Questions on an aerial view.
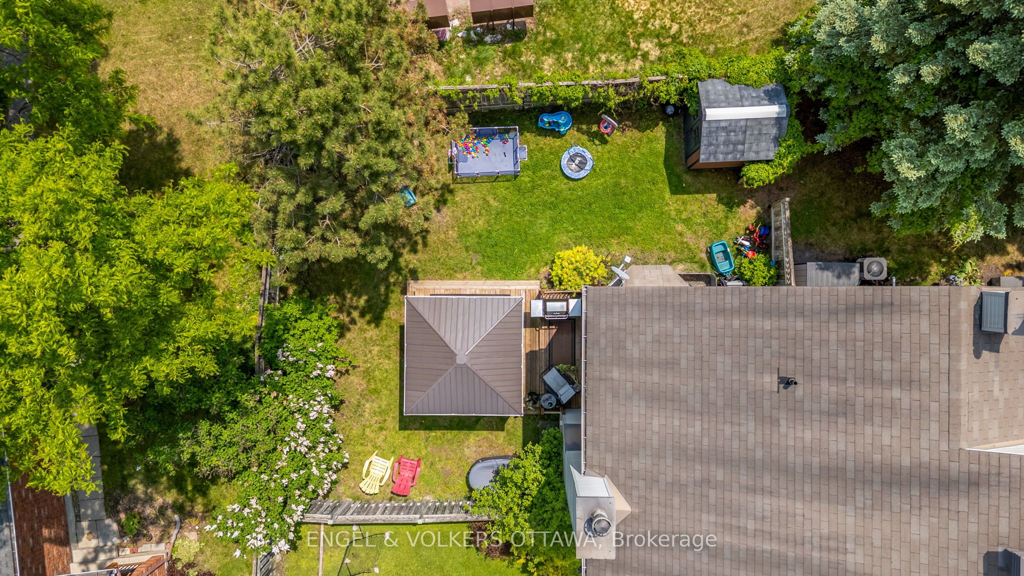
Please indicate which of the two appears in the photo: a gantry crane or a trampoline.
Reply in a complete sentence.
There is a trampoline in the scene.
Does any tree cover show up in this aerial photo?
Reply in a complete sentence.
Yes, some tree cover is visible.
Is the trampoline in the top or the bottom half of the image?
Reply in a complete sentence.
The trampoline is in the top half of the image.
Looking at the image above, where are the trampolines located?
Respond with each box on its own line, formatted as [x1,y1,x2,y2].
[560,143,595,180]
